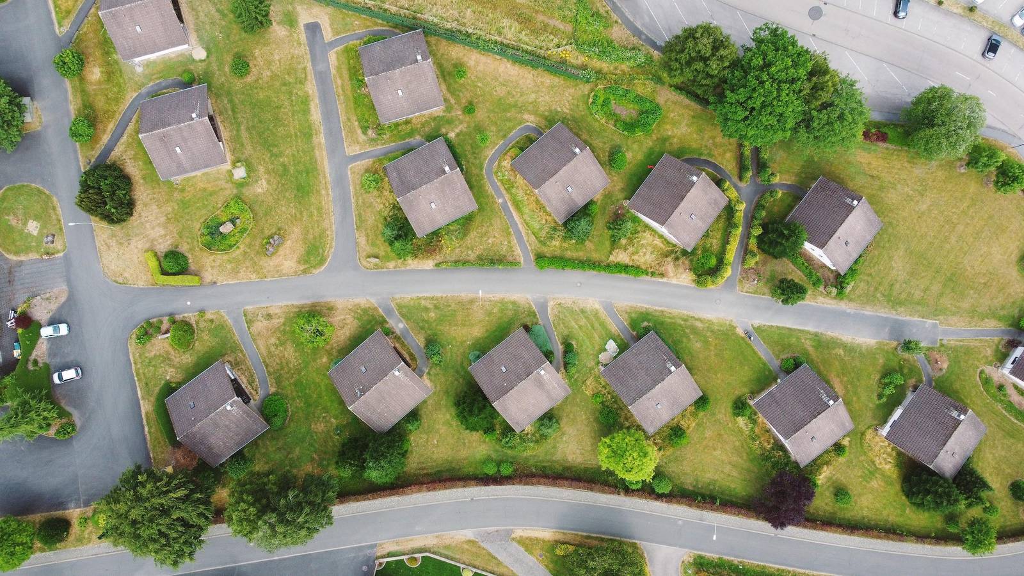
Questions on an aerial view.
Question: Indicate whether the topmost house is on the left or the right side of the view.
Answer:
left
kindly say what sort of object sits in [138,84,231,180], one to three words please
house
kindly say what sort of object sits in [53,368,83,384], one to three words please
car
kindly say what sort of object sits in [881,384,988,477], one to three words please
house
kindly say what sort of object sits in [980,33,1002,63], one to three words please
car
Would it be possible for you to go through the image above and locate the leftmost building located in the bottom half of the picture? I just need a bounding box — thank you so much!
[166,360,270,467]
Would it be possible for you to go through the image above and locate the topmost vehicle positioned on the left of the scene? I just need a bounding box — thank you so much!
[39,323,71,337]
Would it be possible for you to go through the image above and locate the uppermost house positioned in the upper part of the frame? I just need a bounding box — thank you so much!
[97,0,193,62]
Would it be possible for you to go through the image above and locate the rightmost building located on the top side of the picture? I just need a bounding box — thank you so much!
[786,175,884,274]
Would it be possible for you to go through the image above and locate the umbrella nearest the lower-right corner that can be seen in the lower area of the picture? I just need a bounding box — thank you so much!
[599,351,613,365]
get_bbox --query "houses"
[998,336,1024,390]
[97,0,193,62]
[329,329,433,432]
[383,137,478,238]
[627,153,729,253]
[166,360,270,467]
[469,327,571,432]
[359,29,445,124]
[601,331,704,436]
[138,84,231,180]
[510,122,610,224]
[786,175,884,274]
[881,384,988,477]
[751,363,855,467]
